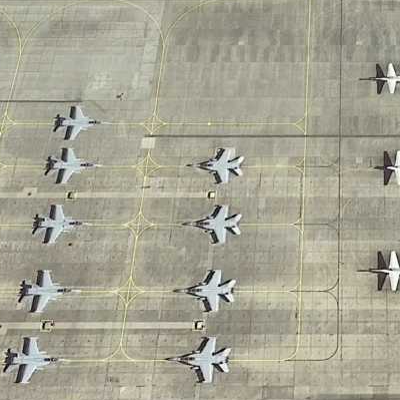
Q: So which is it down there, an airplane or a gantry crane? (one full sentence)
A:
The one in the frame is an airplane.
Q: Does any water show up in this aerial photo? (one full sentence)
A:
No, there is no water in the image.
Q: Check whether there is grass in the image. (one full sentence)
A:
No, the picture contains no grass.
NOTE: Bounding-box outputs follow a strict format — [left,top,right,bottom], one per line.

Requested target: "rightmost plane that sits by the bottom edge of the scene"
[166,338,231,383]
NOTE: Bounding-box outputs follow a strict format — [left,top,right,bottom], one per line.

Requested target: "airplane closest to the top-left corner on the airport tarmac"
[56,107,112,140]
